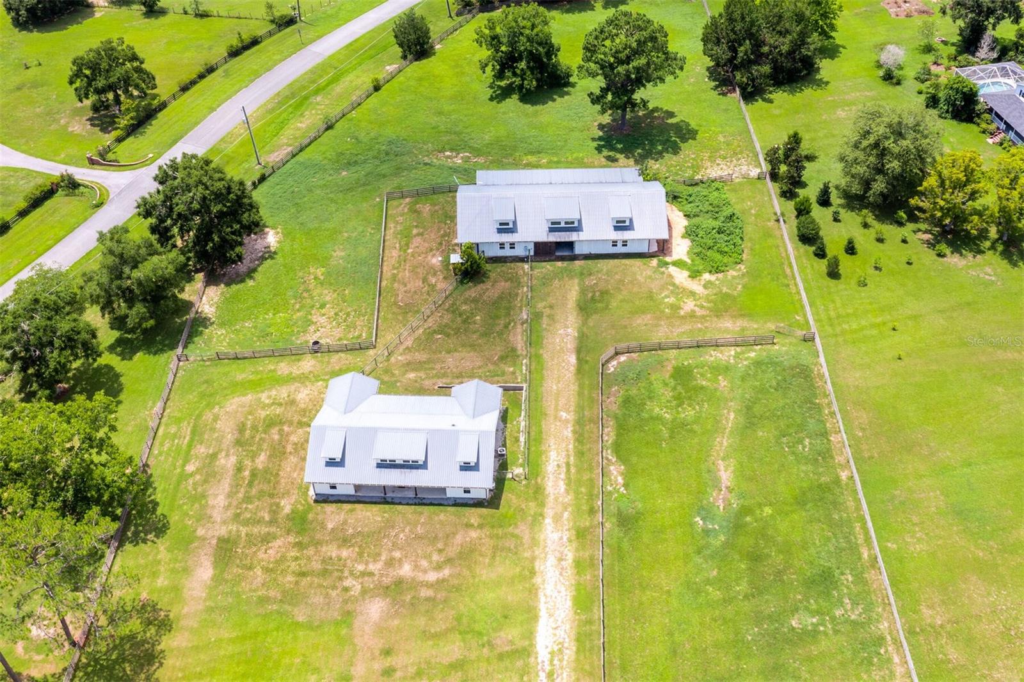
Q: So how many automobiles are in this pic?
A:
0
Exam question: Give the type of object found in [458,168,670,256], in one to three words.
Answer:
barn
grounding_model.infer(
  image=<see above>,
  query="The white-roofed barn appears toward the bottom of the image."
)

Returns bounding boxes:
[304,369,502,506]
